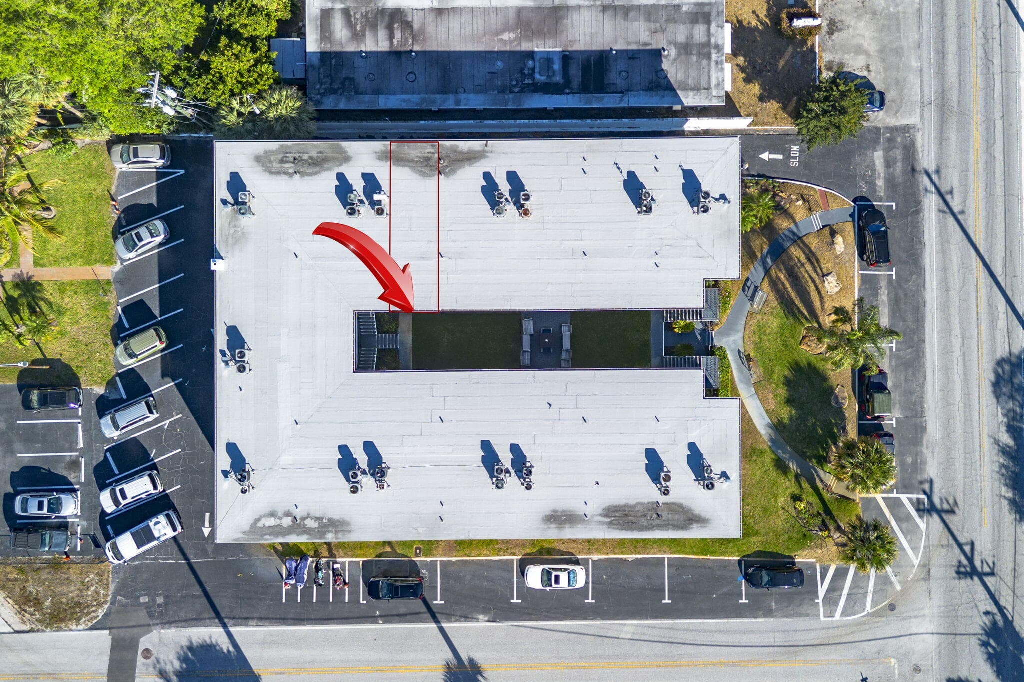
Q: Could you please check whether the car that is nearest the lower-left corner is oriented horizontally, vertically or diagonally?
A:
horizontally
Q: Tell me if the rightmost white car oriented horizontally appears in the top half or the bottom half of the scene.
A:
bottom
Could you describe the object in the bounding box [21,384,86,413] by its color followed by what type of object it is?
black car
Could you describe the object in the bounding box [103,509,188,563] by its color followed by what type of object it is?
white van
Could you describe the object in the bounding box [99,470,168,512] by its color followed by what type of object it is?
white car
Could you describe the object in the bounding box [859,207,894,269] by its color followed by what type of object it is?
black car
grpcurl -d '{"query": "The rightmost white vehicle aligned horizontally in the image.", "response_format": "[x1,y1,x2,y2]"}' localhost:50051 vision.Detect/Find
[524,562,587,591]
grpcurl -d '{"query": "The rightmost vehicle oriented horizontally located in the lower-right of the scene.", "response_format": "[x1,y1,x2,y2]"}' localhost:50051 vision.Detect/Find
[744,562,805,591]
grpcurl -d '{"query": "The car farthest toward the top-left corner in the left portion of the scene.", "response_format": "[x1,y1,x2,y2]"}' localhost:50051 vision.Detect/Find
[110,140,174,170]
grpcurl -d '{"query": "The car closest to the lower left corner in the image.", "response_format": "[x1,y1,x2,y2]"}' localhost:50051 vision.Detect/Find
[4,526,76,555]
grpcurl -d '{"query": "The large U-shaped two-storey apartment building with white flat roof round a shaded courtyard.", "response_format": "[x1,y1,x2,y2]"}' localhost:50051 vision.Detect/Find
[214,137,742,543]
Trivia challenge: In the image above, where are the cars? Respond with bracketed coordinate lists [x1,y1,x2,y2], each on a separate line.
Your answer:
[524,562,587,591]
[859,207,894,269]
[4,526,76,555]
[99,394,164,439]
[744,562,805,591]
[99,470,168,512]
[871,431,901,491]
[368,574,425,603]
[863,370,895,423]
[110,140,174,170]
[866,89,888,116]
[13,490,82,519]
[21,384,86,413]
[115,322,173,364]
[114,215,173,260]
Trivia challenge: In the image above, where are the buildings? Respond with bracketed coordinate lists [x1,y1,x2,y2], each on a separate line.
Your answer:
[214,137,742,543]
[306,0,731,114]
